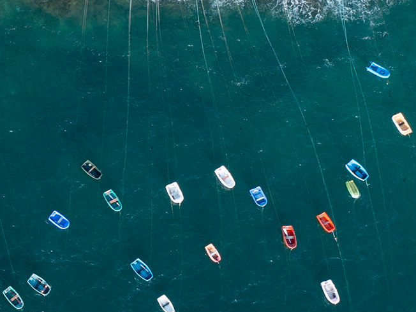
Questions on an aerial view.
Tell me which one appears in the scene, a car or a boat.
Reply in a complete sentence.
It is a boat that can be seen here.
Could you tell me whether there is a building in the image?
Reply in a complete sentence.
No, I can see no building in this picture.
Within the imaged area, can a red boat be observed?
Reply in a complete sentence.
Yes, there's a red boat down there.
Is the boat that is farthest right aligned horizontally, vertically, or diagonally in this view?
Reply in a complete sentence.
The boat that is farthest right is oriented diagonally.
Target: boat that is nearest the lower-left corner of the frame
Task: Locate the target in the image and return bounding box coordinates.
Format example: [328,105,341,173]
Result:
[4,287,23,311]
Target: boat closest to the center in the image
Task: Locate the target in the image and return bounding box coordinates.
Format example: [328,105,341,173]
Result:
[215,165,235,192]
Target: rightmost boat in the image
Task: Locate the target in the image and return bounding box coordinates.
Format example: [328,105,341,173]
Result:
[392,112,414,140]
